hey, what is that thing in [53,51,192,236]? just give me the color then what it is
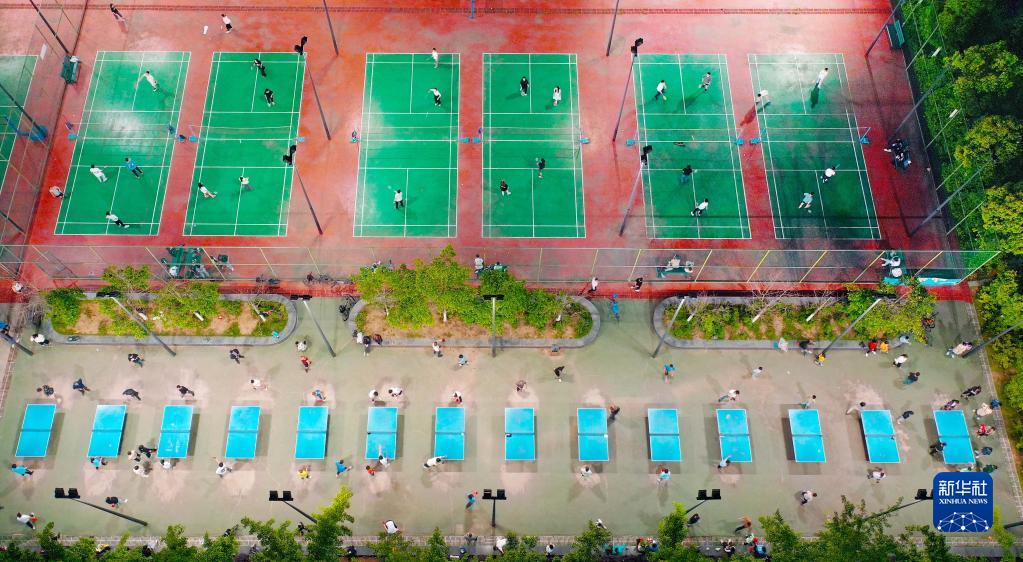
green sports court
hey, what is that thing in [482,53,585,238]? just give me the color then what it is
green sports court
